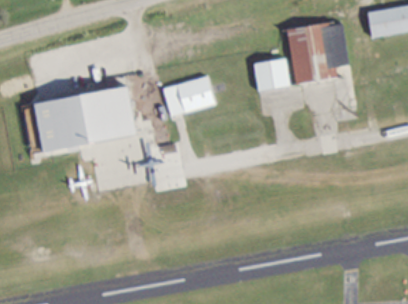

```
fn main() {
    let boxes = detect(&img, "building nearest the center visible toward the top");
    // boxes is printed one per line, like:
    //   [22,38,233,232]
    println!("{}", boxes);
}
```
[162,75,216,120]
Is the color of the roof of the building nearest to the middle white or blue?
white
